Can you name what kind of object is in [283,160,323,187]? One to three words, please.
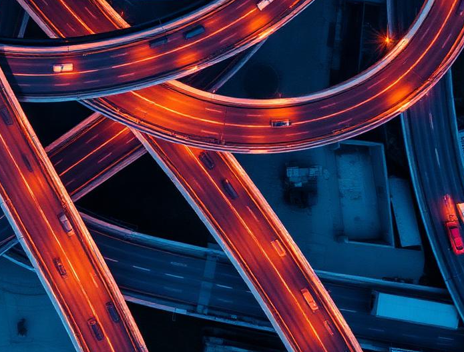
building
